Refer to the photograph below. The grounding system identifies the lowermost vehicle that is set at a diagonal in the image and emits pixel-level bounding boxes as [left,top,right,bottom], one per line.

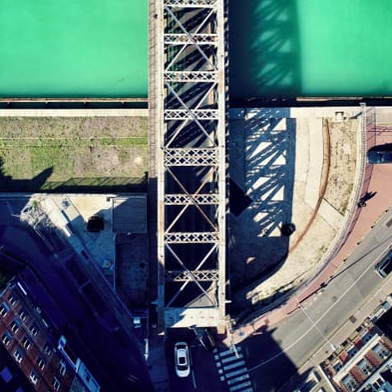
[191,327,217,356]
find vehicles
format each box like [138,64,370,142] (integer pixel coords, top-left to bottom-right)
[368,148,392,164]
[174,343,190,380]
[191,327,217,356]
[374,245,392,277]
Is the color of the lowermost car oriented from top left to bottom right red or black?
black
